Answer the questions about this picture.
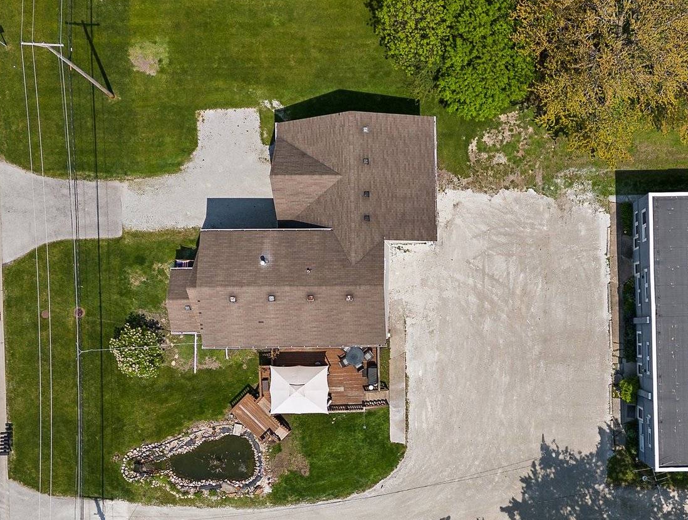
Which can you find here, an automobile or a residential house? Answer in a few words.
residential house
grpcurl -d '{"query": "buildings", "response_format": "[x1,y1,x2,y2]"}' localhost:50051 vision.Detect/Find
[634,193,688,471]
[166,110,439,373]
